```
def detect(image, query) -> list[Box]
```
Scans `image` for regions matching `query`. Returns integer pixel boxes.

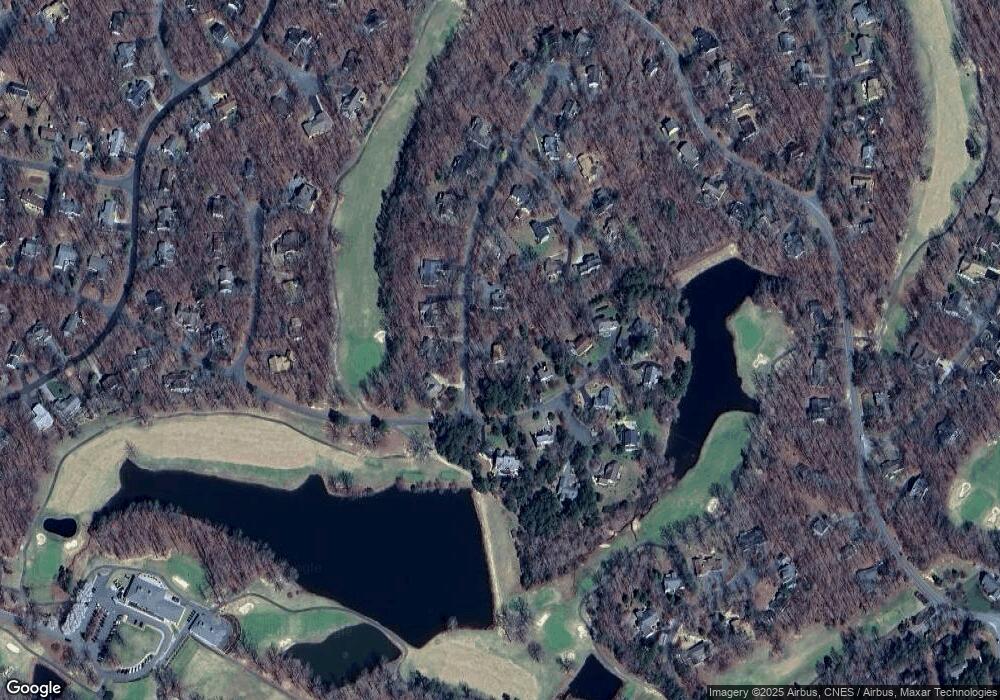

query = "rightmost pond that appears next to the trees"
[561,659,620,700]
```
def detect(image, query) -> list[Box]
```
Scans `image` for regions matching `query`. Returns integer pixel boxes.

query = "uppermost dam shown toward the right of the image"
[678,246,742,291]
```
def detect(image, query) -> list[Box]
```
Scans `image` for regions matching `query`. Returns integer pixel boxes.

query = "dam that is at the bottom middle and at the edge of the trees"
[474,486,521,623]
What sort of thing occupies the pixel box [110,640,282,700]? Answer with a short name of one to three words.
golf course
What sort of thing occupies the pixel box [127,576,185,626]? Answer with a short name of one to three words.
building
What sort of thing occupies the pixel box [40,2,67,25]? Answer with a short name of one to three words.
house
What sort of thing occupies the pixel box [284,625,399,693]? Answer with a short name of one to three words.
pond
